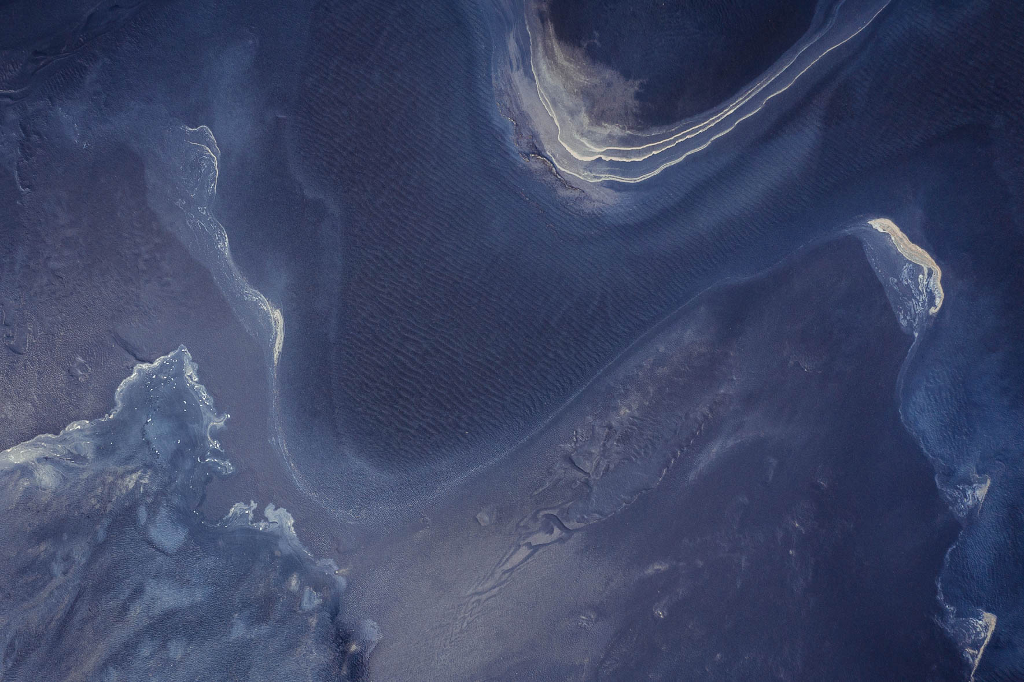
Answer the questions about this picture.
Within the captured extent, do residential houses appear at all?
No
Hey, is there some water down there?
Yes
